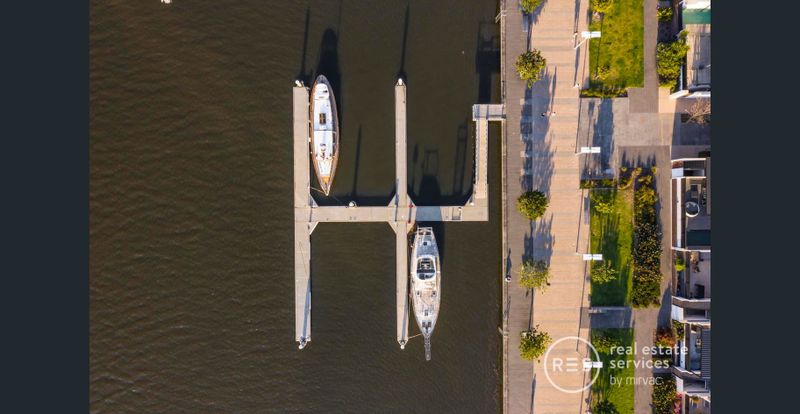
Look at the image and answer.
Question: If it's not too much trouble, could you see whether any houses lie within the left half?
No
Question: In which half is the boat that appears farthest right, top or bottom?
bottom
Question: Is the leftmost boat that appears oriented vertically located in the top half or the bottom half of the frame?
top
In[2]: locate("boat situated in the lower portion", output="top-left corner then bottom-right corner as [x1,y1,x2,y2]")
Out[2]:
[405,224,441,362]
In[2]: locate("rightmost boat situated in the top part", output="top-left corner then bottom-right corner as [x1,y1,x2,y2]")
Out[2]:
[309,74,339,205]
